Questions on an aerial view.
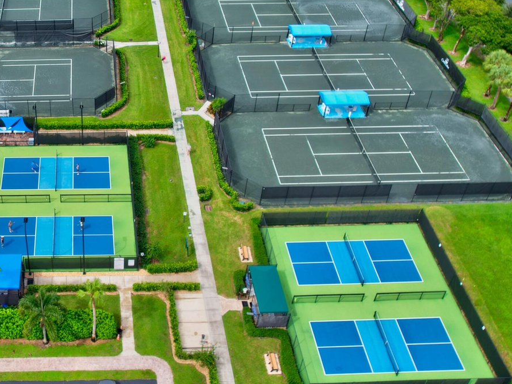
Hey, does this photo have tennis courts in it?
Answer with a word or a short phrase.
Yes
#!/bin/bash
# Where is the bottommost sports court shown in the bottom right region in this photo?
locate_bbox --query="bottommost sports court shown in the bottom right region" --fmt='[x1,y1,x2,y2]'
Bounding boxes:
[309,311,466,376]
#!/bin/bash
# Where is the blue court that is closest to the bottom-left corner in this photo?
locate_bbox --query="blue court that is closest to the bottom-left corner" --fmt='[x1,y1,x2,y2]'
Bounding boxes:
[0,209,114,258]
